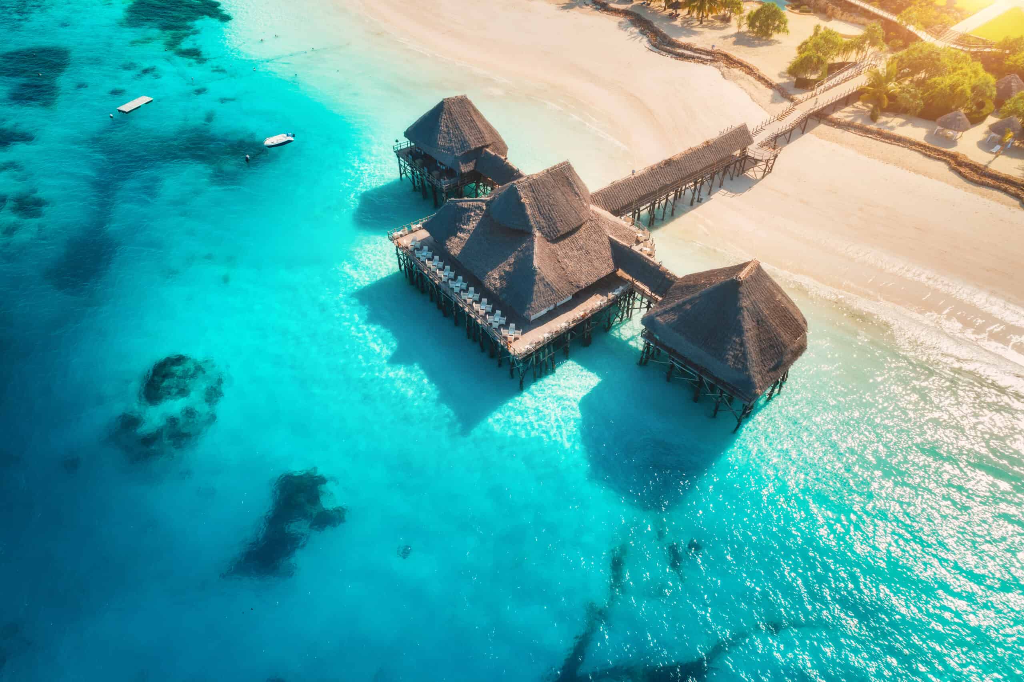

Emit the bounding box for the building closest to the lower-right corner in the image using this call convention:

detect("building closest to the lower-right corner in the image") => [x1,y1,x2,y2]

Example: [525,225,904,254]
[637,259,813,444]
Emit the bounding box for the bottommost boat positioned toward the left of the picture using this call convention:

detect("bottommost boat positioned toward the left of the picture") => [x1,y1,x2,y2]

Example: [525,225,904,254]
[264,130,297,149]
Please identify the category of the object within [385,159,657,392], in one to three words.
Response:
building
